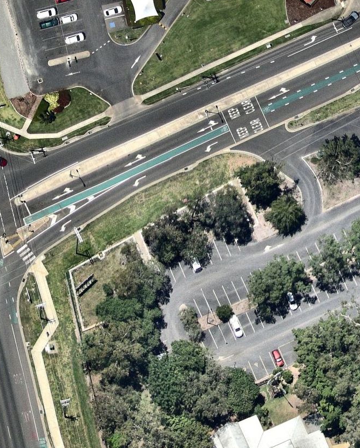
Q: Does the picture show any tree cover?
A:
Yes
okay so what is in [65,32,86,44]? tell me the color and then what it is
white vehicle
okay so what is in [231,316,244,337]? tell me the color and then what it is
white vehicle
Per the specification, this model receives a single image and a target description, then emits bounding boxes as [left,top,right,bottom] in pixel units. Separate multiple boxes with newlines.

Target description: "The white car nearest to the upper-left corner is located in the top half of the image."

[36,7,57,19]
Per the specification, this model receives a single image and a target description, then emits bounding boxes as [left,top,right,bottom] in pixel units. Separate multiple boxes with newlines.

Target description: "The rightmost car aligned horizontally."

[103,4,123,16]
